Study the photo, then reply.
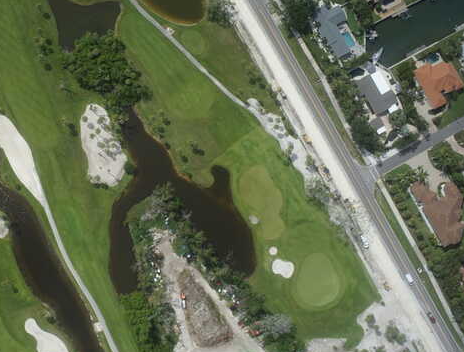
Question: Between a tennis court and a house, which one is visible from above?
house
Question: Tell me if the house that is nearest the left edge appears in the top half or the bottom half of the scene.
top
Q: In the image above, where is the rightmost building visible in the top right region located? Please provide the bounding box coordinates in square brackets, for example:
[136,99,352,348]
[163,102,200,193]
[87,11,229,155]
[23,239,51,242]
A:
[415,55,464,110]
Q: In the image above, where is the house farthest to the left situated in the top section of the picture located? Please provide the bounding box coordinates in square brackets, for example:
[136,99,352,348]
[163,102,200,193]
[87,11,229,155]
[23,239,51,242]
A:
[314,2,355,61]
